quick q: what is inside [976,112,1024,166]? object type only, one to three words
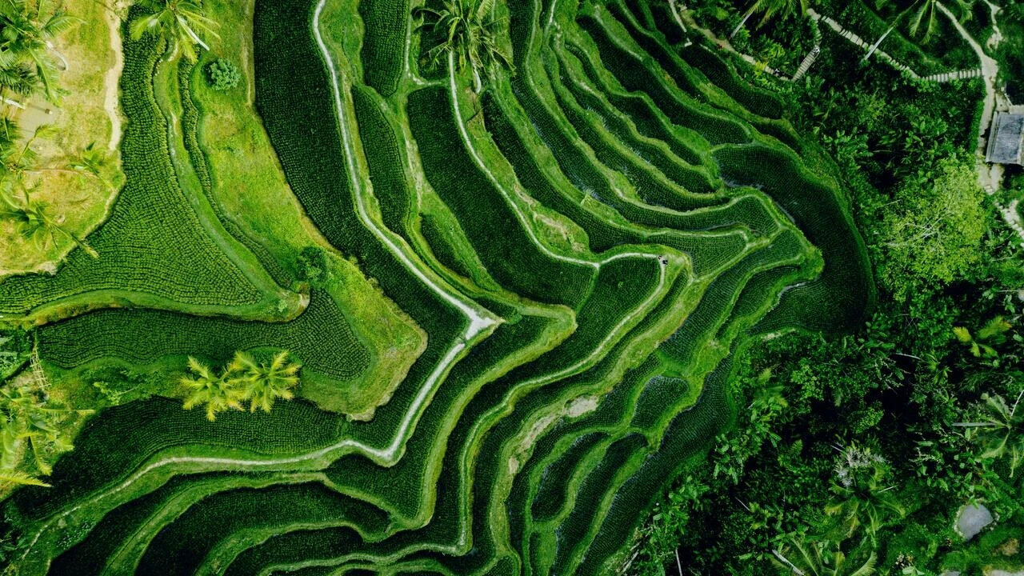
shed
